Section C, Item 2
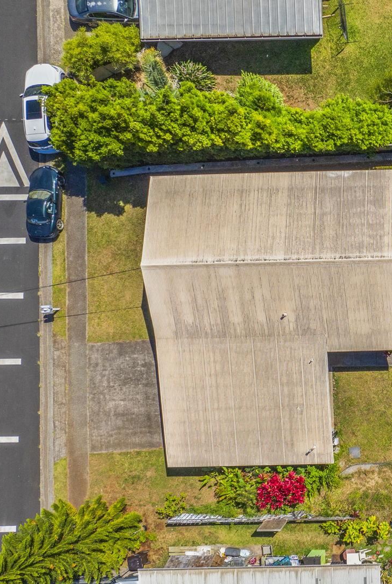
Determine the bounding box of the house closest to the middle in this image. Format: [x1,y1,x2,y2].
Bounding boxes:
[140,169,392,466]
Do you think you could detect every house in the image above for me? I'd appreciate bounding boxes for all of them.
[140,169,392,466]
[137,563,382,584]
[140,0,324,42]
